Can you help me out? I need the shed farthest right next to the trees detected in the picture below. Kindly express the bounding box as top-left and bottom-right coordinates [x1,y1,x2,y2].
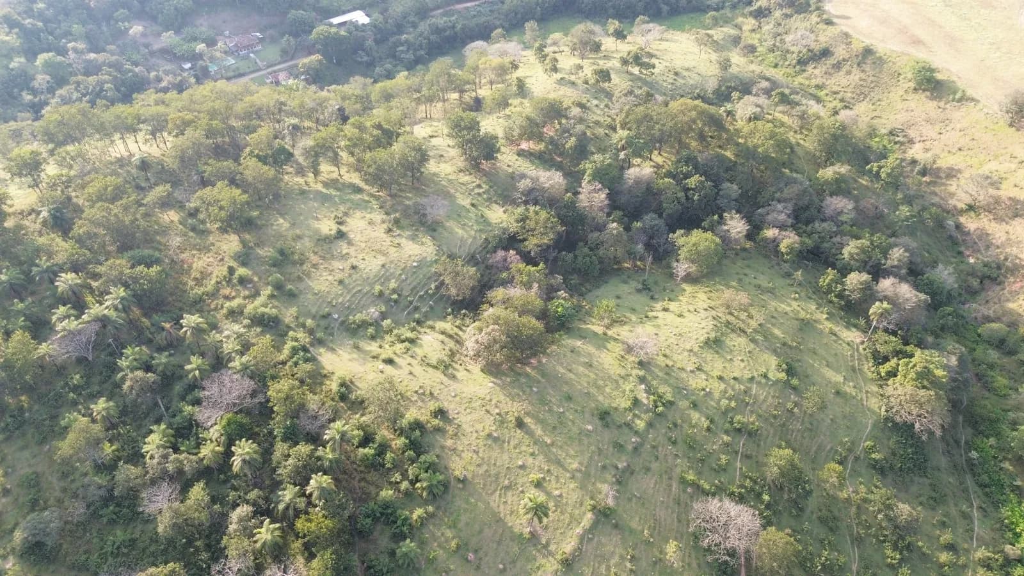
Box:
[327,12,374,27]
